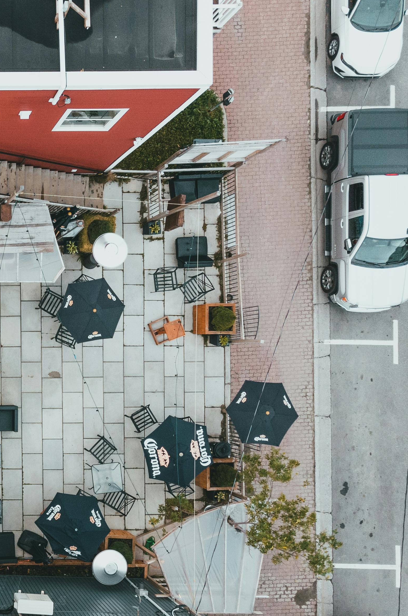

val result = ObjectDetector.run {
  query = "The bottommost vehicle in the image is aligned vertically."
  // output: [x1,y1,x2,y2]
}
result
[318,107,408,314]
